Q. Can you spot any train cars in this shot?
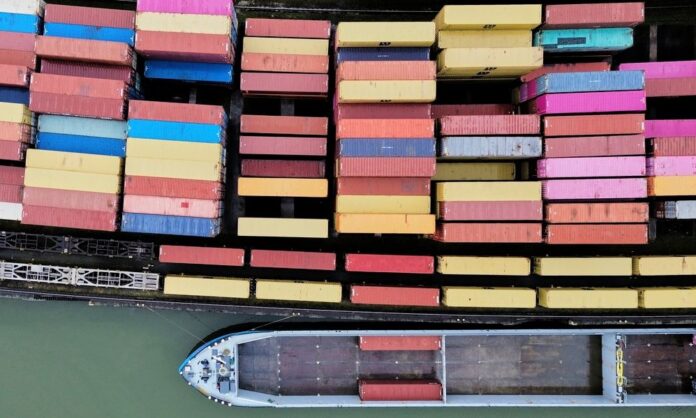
Yes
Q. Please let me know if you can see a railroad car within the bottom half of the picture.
Yes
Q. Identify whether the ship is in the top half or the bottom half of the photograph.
bottom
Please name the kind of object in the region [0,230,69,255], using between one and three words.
rail car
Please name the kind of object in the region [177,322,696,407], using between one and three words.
ship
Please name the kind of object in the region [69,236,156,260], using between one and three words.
rail car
